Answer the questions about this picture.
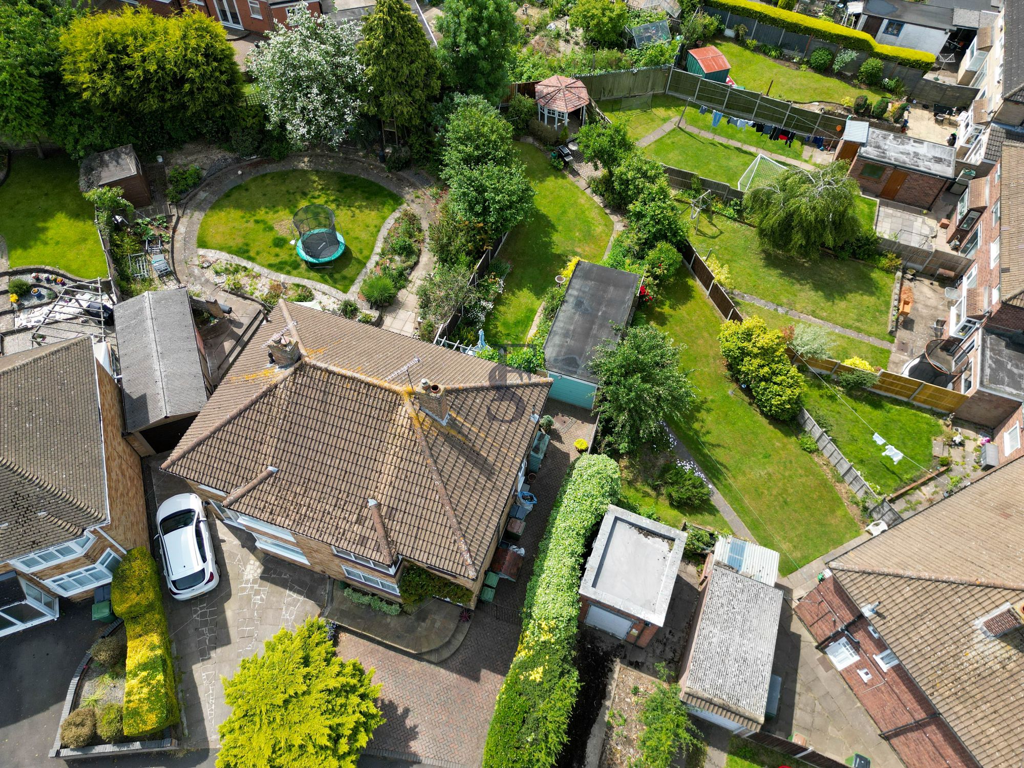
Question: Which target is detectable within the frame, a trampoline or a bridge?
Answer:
trampoline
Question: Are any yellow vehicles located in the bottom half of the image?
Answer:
No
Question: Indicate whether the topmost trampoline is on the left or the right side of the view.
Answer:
left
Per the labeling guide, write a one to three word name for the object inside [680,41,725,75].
shed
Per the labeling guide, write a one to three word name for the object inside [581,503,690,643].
building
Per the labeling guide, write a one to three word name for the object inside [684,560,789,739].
building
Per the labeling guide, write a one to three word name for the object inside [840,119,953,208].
shed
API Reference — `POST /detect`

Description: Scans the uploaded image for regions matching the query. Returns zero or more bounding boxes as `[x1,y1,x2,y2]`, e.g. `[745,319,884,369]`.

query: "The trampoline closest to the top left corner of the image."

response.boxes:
[288,214,343,277]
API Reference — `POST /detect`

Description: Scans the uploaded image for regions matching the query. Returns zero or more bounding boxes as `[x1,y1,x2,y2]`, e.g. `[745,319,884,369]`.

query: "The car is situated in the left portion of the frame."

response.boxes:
[150,494,225,602]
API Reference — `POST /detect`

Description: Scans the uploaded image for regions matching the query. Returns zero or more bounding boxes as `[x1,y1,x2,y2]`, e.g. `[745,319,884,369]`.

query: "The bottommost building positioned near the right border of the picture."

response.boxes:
[797,443,1024,768]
